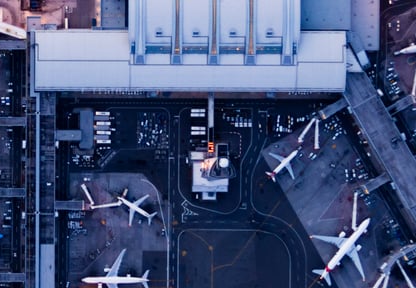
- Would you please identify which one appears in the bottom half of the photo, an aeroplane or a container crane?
aeroplane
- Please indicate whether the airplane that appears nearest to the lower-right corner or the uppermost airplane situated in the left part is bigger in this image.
the airplane that appears nearest to the lower-right corner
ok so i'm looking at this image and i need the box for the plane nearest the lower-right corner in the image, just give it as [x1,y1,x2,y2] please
[312,218,370,281]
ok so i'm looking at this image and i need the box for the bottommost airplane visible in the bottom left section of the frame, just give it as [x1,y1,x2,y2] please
[81,248,146,288]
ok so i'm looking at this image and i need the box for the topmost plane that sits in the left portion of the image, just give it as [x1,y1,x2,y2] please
[119,193,153,226]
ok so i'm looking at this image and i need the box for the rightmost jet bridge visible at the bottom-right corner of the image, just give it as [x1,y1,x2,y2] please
[397,259,414,288]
